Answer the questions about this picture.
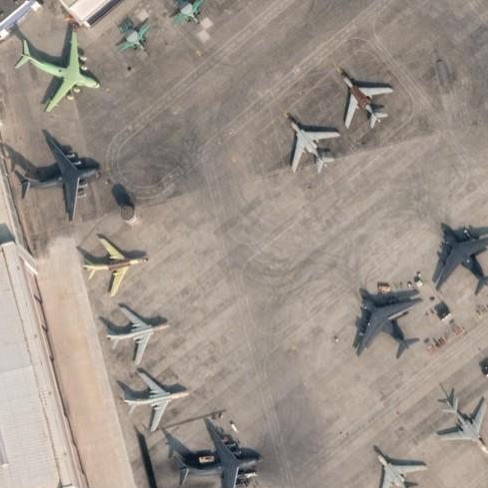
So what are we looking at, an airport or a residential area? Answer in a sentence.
It's an airport.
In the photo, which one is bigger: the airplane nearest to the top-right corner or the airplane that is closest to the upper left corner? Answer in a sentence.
Compared with the airplane nearest to the top-right corner, the airplane that is closest to the upper left corner is the bigger one.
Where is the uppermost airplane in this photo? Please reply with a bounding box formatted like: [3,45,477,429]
[173,0,207,25]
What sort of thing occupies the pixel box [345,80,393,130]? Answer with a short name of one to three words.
airplane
